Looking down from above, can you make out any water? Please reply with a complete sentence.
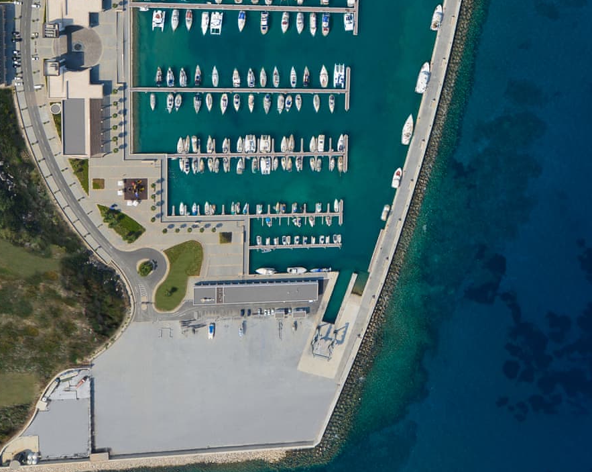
Yes, there is water in the image.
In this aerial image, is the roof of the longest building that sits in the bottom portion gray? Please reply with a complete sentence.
Yes, the roof of the longest building that sits in the bottom portion is indeed gray.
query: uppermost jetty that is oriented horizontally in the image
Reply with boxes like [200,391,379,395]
[132,0,358,35]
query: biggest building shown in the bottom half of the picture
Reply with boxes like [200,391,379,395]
[193,279,319,305]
